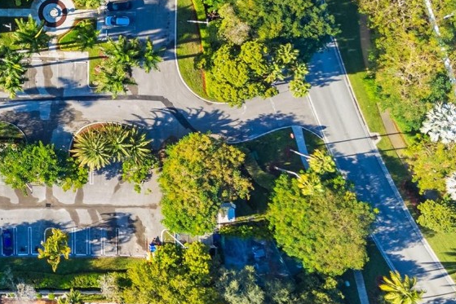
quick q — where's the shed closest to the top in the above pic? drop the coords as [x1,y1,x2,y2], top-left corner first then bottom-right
[220,207,242,229]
